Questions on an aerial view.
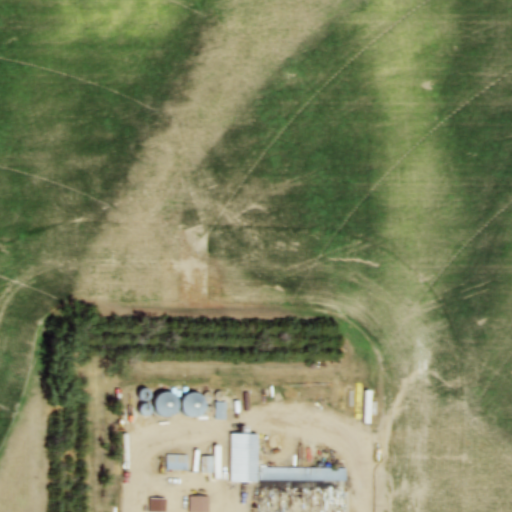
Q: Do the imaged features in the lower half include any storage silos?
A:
Yes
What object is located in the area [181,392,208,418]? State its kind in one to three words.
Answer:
silo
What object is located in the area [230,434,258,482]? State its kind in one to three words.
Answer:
shed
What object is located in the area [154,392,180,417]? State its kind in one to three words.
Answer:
silo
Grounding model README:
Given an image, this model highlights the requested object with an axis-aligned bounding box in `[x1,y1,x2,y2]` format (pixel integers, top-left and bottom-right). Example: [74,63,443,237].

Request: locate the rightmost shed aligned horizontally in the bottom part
[258,468,346,481]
